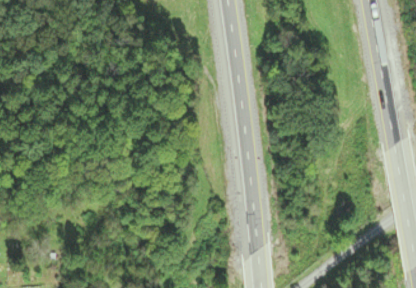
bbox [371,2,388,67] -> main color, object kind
white vehicle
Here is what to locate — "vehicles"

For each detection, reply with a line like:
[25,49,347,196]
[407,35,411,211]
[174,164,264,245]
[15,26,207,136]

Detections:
[371,2,388,67]
[379,90,386,108]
